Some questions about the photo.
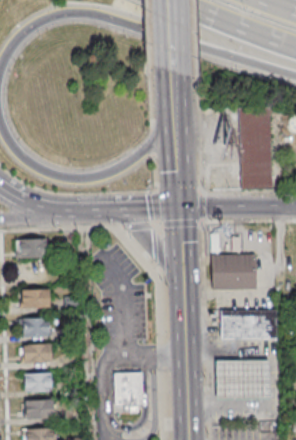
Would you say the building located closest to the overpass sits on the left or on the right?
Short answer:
right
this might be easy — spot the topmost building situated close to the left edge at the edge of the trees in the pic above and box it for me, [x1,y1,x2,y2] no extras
[13,238,46,259]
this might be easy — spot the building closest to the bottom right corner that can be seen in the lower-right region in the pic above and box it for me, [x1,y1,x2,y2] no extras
[216,358,270,398]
